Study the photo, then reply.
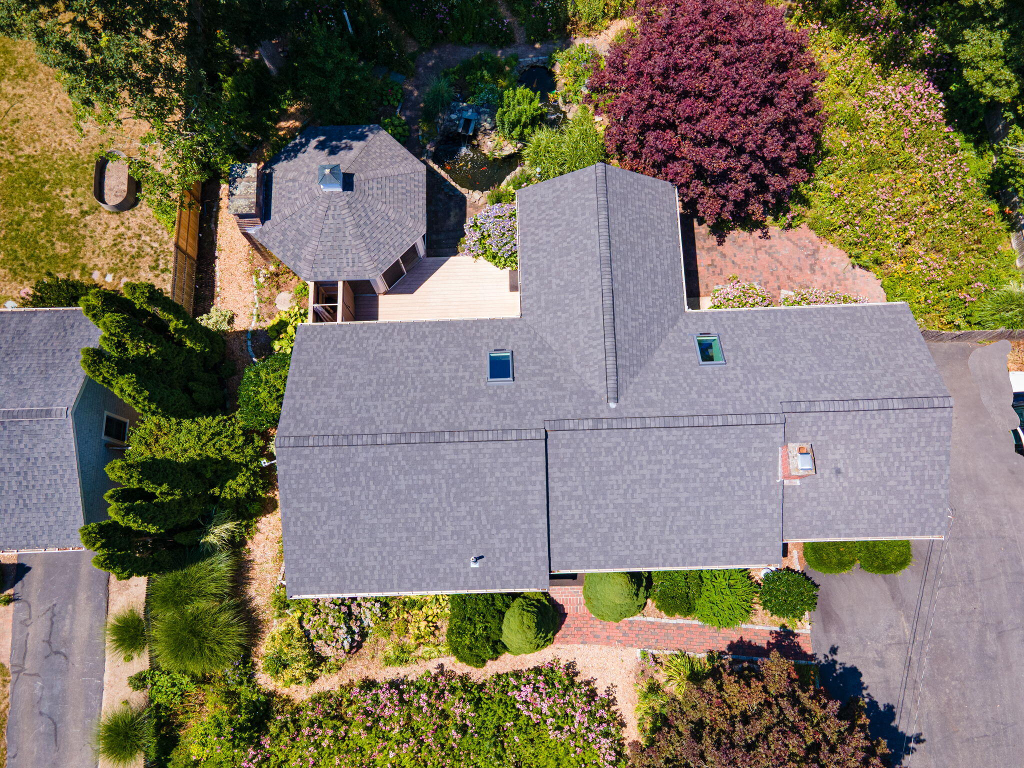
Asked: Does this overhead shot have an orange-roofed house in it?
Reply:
No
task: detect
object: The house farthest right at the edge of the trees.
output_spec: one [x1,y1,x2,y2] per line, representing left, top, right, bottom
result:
[259,165,953,601]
